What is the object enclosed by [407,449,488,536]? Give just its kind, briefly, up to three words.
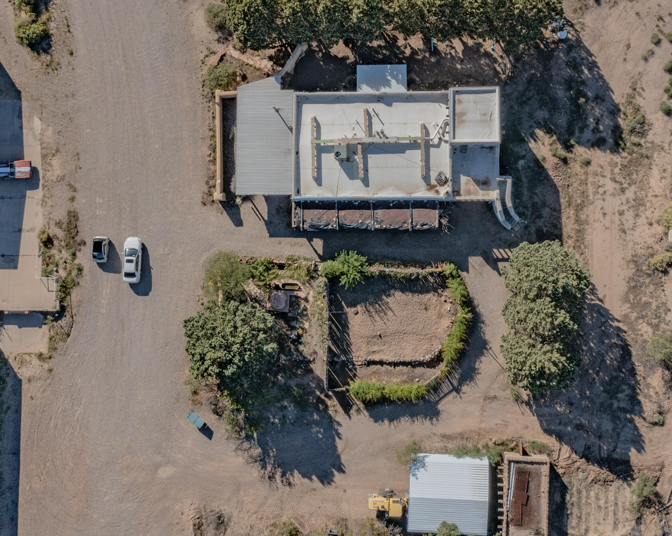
shed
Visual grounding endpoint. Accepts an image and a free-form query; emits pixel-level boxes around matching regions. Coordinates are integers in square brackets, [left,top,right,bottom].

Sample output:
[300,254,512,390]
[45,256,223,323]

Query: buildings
[407,449,488,536]
[294,83,500,202]
[496,441,549,536]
